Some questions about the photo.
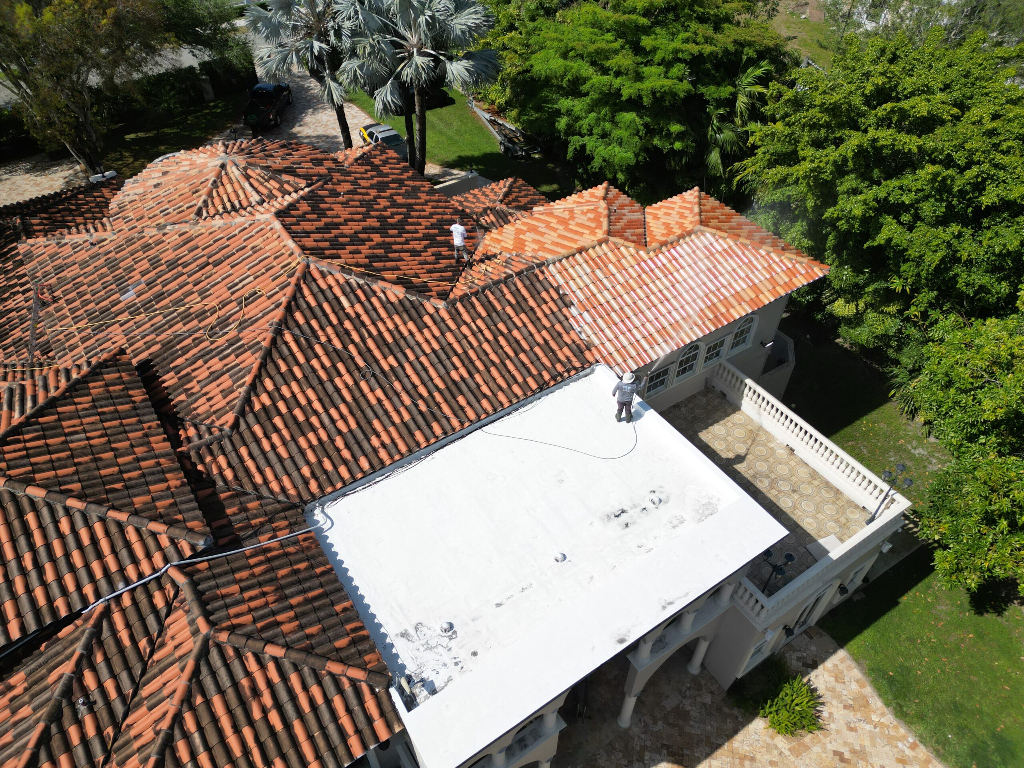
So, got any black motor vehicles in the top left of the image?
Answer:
Yes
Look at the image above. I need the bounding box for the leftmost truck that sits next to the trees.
[246,83,298,127]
